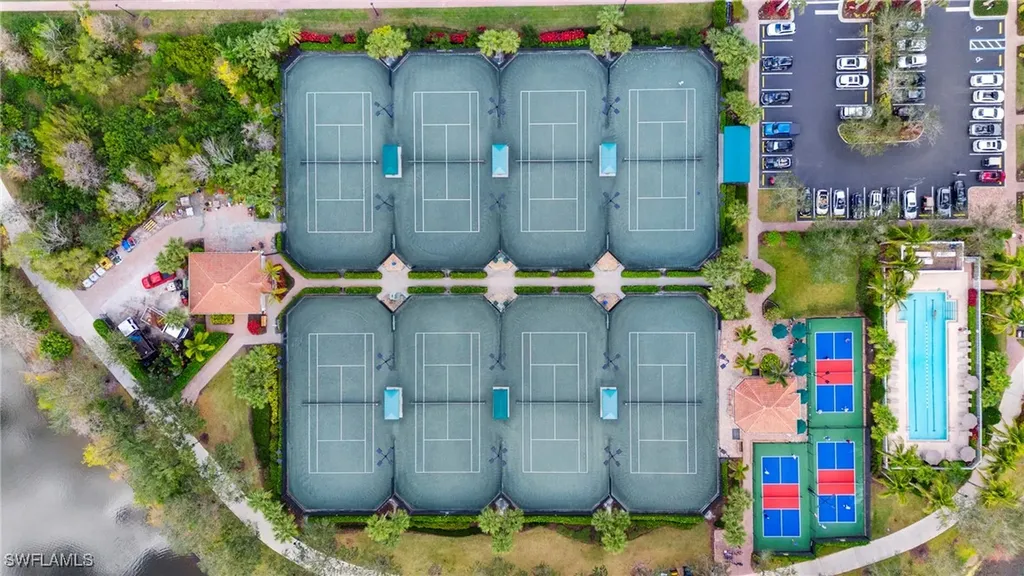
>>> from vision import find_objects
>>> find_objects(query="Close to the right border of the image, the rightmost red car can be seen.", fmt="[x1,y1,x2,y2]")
[977,169,1006,183]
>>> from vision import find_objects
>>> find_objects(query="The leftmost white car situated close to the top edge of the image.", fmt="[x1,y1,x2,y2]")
[767,21,796,35]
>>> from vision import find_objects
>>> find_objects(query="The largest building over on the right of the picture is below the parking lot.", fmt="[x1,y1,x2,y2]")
[730,376,801,433]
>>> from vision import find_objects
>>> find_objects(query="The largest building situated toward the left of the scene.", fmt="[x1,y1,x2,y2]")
[189,252,271,314]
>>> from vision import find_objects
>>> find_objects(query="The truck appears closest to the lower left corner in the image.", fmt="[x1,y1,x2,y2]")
[116,319,156,363]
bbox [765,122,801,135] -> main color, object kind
blue vehicle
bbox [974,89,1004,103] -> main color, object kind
white car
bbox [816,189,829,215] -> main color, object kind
white vehicle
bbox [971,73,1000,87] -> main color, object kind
white car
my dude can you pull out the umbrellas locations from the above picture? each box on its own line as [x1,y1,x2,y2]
[791,360,807,375]
[959,412,978,429]
[799,389,809,404]
[791,322,807,338]
[923,449,941,465]
[957,446,975,462]
[772,323,788,339]
[960,376,978,390]
[796,419,808,434]
[791,341,807,356]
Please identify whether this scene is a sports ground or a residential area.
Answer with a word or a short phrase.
sports ground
